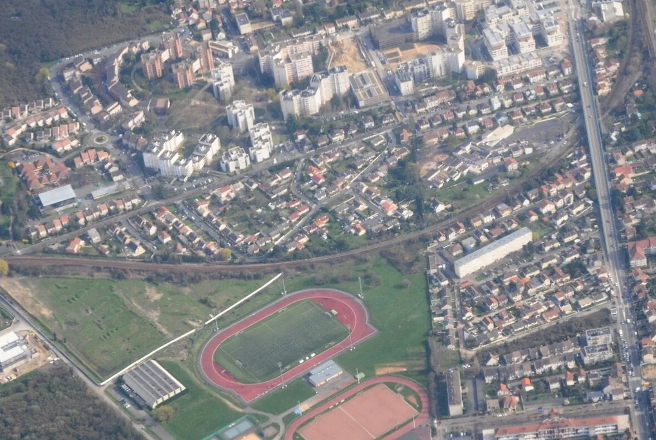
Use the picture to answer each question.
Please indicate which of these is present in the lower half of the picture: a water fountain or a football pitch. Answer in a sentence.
There is a football pitch in the lower half of the picture.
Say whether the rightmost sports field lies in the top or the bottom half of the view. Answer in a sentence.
The rightmost sports field sits in the bottom half of the picture.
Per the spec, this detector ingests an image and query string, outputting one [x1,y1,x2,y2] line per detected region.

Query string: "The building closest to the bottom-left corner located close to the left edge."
[0,331,27,372]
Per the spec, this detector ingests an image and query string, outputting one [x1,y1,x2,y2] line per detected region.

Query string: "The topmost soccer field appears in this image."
[218,299,350,380]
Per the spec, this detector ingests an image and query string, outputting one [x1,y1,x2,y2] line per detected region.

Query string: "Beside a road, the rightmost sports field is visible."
[298,383,418,440]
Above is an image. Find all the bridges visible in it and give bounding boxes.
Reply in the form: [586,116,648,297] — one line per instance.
[568,0,625,281]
